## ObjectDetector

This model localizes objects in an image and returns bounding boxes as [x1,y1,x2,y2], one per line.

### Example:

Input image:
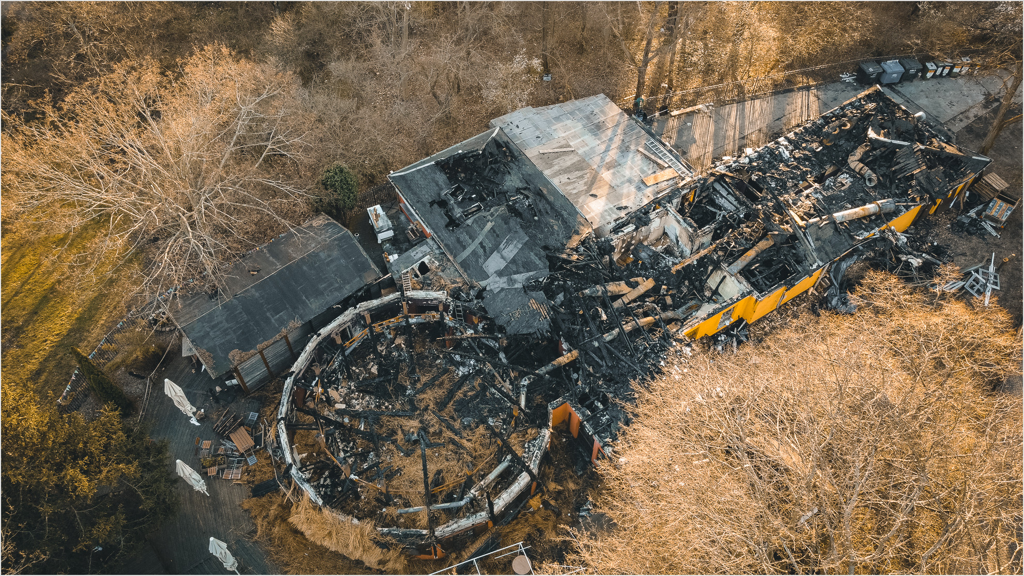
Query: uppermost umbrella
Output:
[166,380,203,429]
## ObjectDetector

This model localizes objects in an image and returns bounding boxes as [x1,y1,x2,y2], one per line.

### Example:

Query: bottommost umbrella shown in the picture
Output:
[206,545,244,576]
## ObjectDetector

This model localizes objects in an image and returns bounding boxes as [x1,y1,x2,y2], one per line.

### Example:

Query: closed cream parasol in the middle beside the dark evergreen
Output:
[176,456,215,502]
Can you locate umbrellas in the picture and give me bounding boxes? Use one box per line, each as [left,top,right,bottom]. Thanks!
[176,456,215,502]
[206,545,244,576]
[166,380,203,429]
